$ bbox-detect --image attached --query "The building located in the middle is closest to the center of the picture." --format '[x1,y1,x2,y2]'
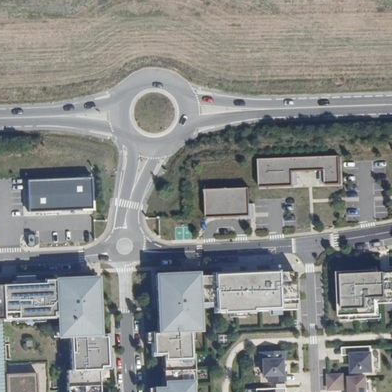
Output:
[202,186,248,218]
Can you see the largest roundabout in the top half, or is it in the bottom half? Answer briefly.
top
